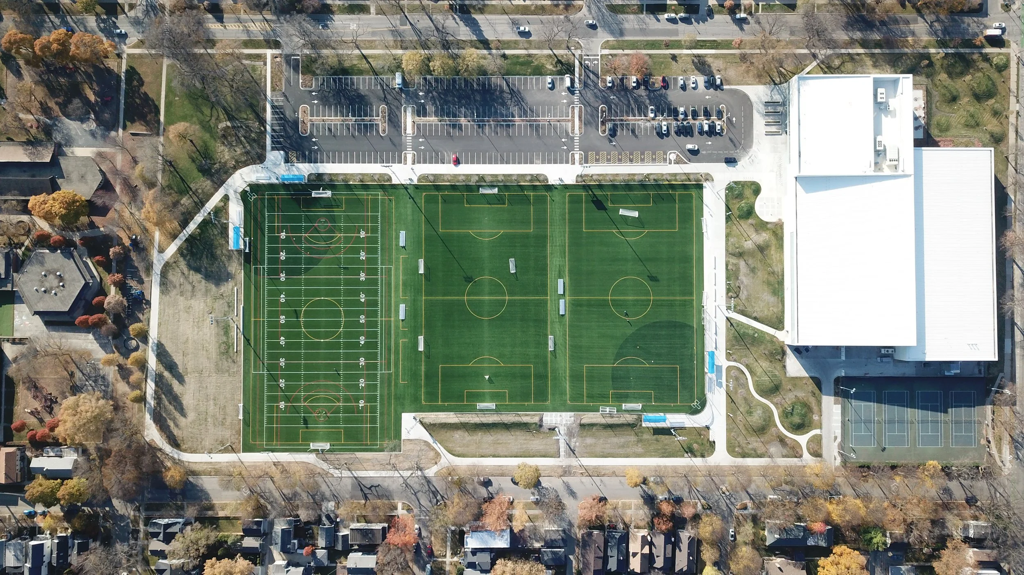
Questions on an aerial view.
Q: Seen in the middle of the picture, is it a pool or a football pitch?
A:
football pitch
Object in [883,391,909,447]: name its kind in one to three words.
tennis court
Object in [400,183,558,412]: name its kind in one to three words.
soccer field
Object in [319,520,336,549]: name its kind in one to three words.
house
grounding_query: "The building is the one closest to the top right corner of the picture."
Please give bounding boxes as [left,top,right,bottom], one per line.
[784,74,999,374]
